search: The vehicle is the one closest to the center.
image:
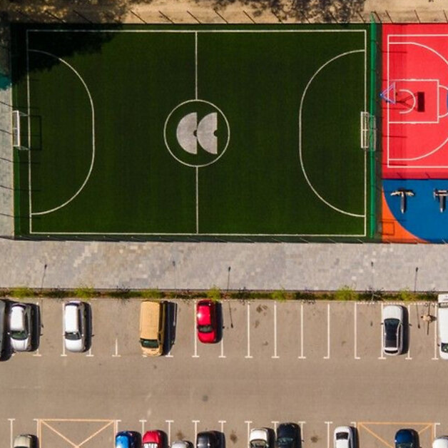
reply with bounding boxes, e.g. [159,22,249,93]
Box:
[195,300,217,342]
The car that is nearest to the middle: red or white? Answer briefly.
red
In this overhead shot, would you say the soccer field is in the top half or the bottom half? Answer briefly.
top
